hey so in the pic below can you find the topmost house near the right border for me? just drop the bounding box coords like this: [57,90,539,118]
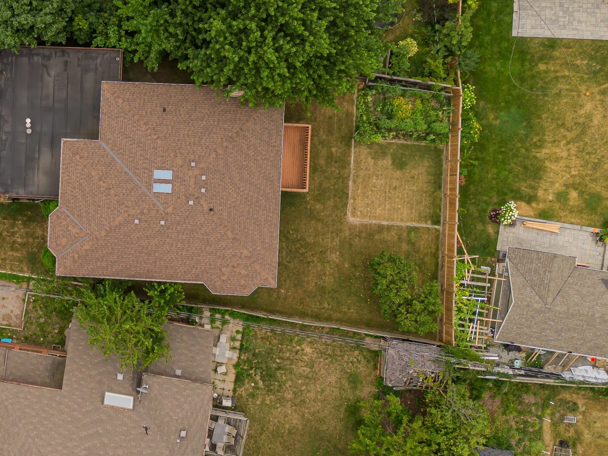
[479,246,608,359]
